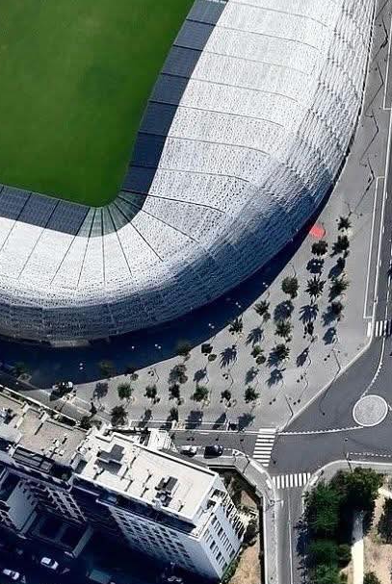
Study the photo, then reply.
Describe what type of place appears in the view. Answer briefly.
sports ground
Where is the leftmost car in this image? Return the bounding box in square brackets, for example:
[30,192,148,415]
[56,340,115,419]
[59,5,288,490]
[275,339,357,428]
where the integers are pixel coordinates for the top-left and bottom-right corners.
[2,569,20,582]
